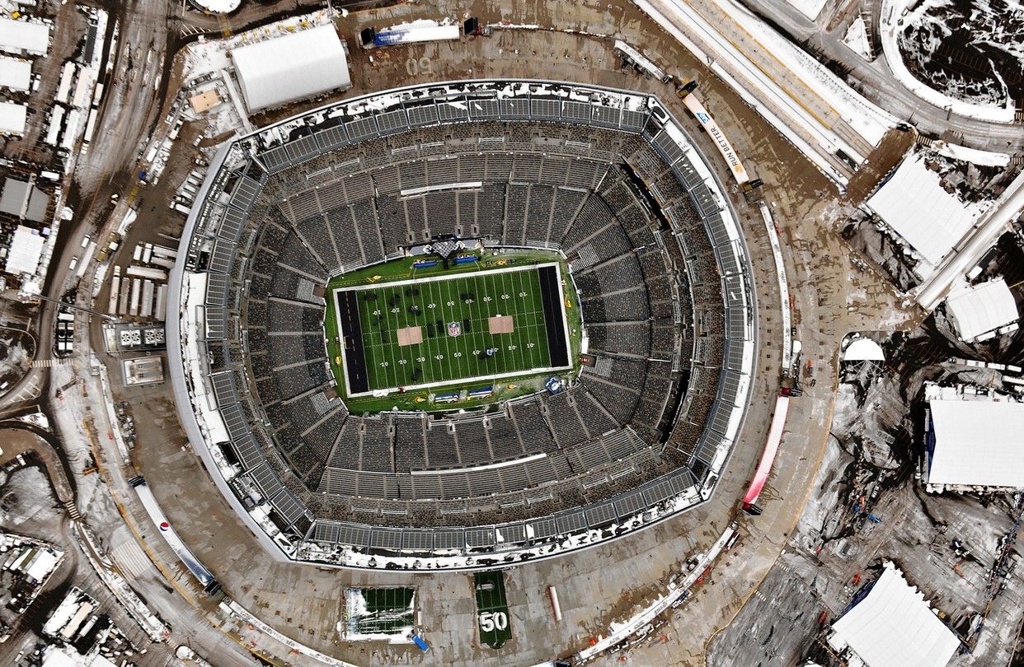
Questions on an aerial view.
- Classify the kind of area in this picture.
sports ground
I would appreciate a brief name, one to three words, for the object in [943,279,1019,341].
tent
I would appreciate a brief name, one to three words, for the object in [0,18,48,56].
tent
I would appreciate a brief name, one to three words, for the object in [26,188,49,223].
building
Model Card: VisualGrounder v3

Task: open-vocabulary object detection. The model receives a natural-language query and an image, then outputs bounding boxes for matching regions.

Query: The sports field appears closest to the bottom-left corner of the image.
[344,585,415,646]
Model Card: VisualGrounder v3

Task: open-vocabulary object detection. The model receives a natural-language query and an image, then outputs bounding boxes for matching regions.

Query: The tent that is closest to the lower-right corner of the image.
[828,567,961,667]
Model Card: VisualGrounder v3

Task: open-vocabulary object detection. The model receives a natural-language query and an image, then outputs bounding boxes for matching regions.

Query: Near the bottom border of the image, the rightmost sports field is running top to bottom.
[474,569,512,649]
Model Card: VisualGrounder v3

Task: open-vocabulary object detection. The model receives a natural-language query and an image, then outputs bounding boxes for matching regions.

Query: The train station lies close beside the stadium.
[639,0,873,184]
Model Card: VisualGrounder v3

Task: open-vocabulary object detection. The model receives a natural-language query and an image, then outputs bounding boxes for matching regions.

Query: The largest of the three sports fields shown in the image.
[324,248,581,417]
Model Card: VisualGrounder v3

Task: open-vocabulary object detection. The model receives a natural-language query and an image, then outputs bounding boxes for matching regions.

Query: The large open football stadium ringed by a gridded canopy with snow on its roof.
[165,78,759,572]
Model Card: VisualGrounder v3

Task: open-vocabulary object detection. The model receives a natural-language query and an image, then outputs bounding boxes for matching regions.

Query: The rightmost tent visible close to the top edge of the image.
[229,23,350,112]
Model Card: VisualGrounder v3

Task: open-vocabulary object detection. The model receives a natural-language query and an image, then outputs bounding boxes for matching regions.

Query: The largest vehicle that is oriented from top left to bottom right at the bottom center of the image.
[411,634,429,652]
